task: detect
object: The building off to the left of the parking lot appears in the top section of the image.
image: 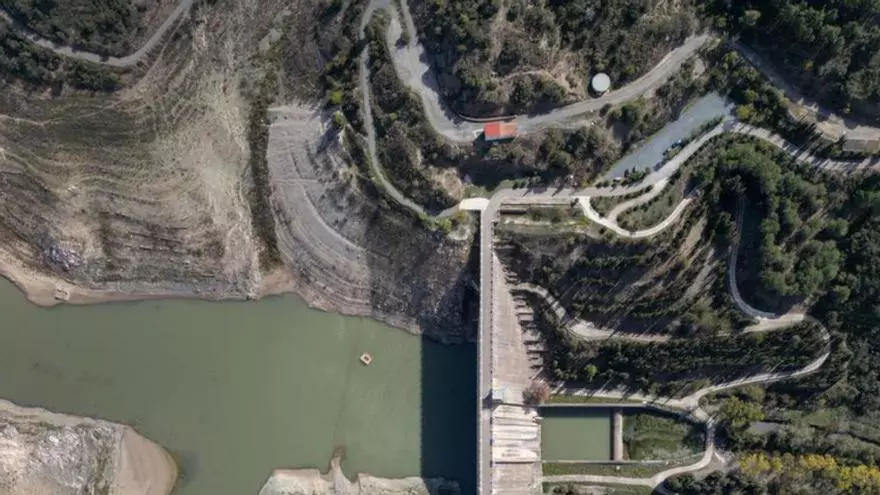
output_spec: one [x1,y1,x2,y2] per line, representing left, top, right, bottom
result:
[475,123,517,141]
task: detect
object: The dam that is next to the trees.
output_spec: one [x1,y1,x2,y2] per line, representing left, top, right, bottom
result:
[475,191,546,495]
